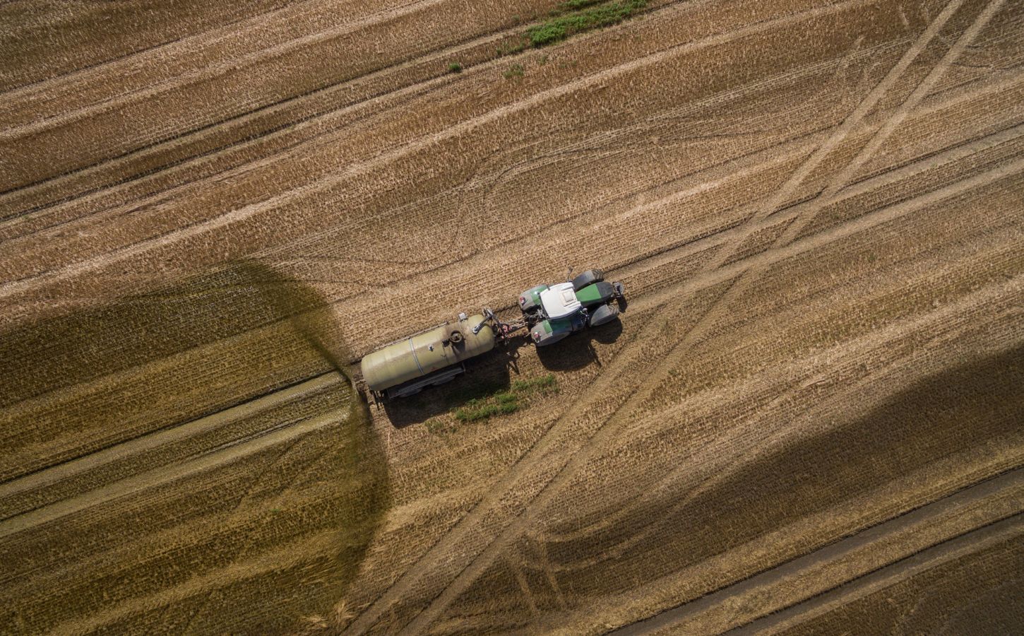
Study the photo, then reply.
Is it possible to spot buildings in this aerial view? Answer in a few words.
No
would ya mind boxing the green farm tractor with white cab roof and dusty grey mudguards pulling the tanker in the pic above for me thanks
[516,268,622,348]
